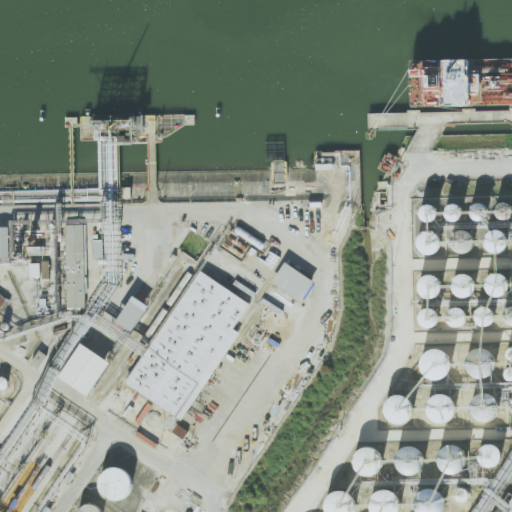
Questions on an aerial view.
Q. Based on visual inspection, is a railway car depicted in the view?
Yes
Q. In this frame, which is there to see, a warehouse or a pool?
warehouse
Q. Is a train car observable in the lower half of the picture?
Yes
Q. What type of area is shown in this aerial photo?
port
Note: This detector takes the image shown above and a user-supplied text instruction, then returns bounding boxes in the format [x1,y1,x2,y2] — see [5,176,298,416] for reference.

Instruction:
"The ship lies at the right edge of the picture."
[408,60,512,108]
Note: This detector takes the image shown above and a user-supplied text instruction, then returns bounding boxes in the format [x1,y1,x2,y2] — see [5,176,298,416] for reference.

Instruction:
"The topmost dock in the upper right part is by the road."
[368,110,512,154]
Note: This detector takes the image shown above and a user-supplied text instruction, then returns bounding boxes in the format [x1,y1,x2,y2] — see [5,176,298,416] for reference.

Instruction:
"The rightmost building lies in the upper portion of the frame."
[370,182,392,209]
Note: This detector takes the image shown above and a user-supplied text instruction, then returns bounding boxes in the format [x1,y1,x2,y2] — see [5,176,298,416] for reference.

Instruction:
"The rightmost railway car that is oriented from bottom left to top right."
[165,272,193,306]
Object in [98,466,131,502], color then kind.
white storage tank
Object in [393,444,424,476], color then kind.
white storage tank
